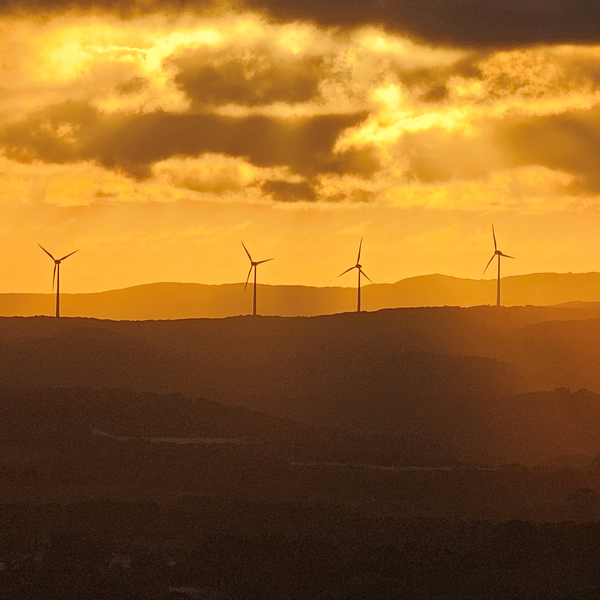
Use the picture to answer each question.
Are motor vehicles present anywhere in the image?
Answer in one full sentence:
No, no motor vehicle is visible in the scene.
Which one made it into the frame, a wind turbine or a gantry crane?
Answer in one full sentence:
Visible in the photo is a wind turbine.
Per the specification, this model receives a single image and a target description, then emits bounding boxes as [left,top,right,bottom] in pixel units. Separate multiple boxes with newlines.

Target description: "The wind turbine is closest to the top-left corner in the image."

[38,243,78,318]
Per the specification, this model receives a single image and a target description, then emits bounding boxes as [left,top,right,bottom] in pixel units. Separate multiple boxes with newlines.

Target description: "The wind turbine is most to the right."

[483,225,516,305]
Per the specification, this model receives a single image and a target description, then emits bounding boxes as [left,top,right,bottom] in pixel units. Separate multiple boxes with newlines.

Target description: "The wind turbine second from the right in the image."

[339,242,372,311]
